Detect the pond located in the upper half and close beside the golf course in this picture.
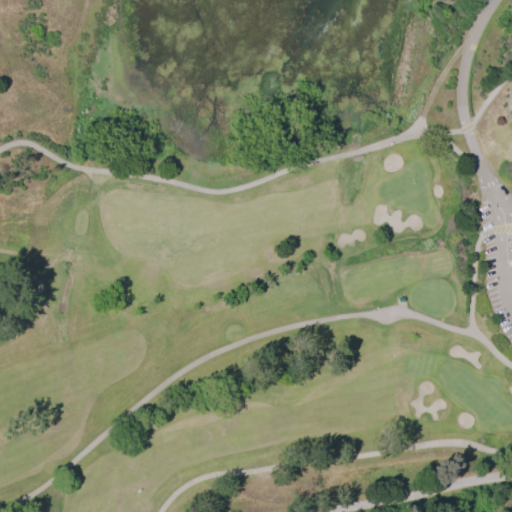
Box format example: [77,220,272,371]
[121,0,410,170]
